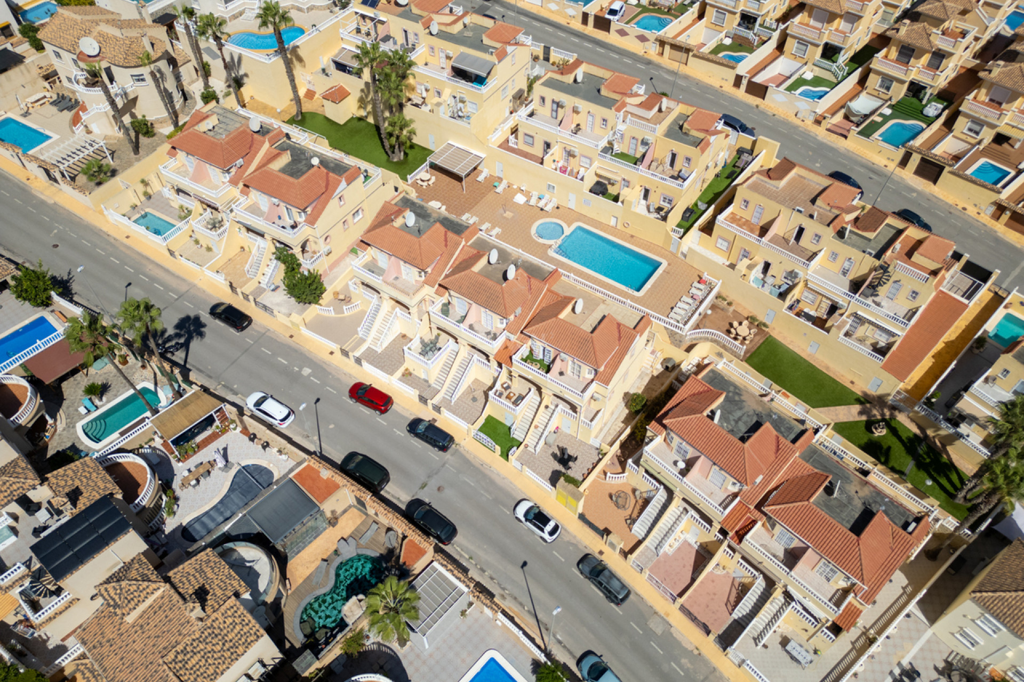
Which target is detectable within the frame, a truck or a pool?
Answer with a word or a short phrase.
pool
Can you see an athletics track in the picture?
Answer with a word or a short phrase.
No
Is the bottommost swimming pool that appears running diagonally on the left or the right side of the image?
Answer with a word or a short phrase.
left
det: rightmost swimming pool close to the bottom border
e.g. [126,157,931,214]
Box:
[459,648,530,682]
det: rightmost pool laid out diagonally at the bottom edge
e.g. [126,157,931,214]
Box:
[293,547,389,656]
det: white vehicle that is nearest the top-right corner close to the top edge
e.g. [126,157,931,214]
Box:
[604,0,626,21]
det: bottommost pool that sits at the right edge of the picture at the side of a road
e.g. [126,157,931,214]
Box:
[981,313,1024,348]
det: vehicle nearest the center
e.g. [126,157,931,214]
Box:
[404,418,457,455]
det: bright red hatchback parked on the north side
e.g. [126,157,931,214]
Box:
[347,386,396,418]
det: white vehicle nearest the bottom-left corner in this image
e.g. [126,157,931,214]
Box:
[244,394,298,430]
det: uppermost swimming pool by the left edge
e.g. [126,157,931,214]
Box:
[21,0,63,26]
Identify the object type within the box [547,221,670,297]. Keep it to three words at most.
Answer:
swimming pool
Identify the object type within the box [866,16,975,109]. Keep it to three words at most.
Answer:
house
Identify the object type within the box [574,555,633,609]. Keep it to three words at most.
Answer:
car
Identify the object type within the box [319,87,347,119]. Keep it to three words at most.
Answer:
shed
